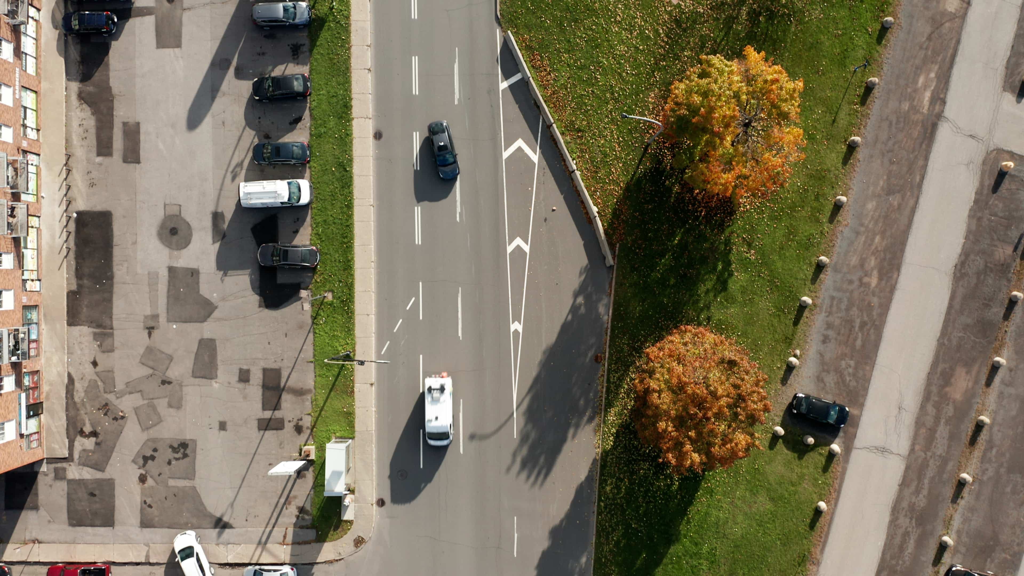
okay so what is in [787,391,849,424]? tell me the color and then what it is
black car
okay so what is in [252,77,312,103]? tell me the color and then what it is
black car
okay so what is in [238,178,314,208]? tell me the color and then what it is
white van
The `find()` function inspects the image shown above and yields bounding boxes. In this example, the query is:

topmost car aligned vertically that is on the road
[429,120,460,181]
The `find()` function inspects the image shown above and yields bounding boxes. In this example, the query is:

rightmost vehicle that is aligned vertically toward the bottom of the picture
[425,371,456,443]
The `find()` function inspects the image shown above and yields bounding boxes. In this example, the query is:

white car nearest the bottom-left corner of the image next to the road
[177,530,215,576]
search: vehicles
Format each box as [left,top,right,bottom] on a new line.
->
[252,2,312,31]
[177,530,215,576]
[948,567,987,576]
[258,243,321,268]
[253,141,312,166]
[44,564,110,576]
[429,120,460,181]
[252,77,312,103]
[243,566,298,576]
[238,178,314,208]
[787,391,849,424]
[60,8,116,36]
[425,371,456,443]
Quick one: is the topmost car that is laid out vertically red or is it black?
black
